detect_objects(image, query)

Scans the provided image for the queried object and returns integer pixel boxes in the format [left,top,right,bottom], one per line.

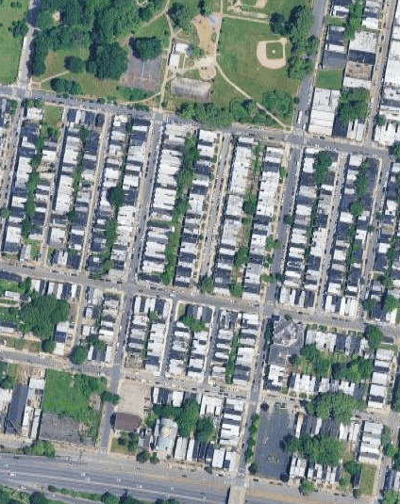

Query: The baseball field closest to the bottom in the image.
[257,33,289,68]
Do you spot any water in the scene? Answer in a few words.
No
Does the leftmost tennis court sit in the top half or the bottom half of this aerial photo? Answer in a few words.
top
